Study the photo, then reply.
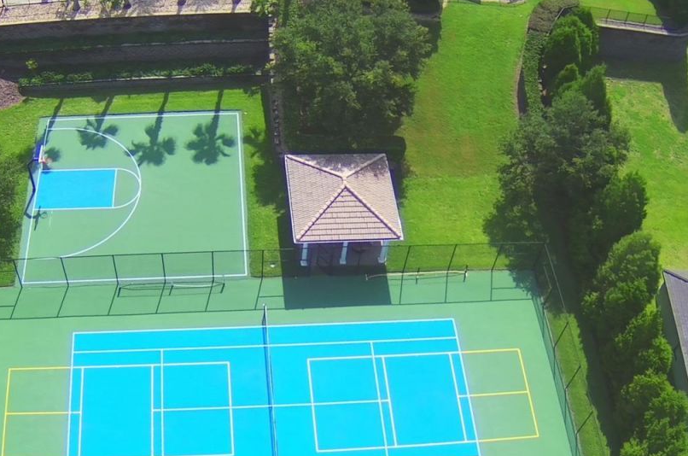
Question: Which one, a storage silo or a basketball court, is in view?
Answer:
basketball court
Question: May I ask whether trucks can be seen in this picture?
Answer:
No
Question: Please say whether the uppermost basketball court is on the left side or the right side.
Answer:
left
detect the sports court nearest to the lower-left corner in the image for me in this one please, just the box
[1,360,234,456]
